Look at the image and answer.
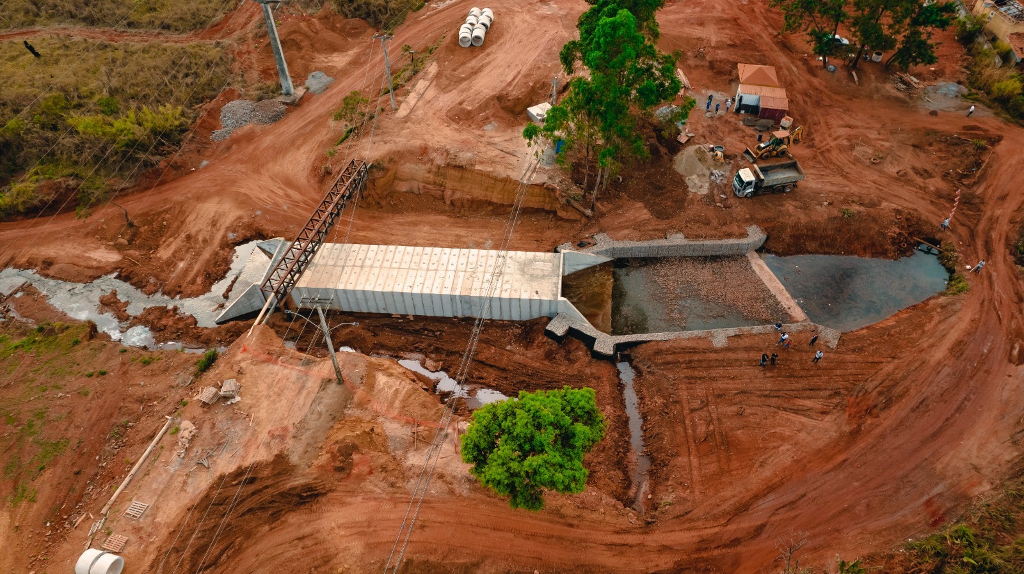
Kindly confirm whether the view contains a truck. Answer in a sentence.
Yes, there's a truck here.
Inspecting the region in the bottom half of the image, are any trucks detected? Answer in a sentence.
No, looking in the bottom half of the image, there is no truck.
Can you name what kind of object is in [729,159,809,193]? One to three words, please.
truck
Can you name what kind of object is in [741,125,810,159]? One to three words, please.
work vehicle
